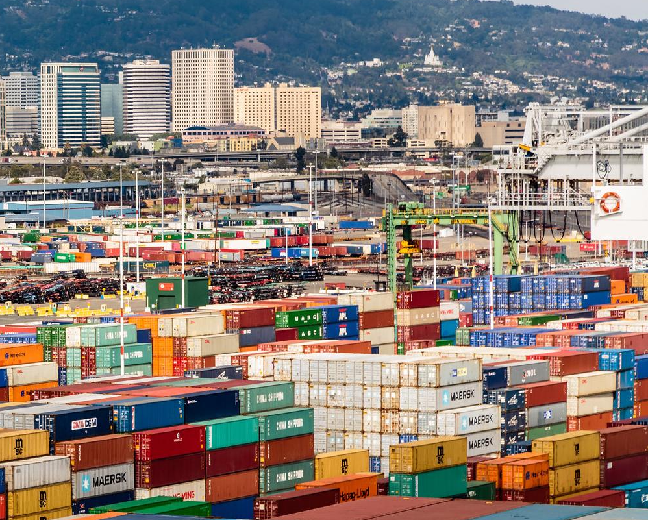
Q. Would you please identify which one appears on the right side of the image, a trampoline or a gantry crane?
gantry crane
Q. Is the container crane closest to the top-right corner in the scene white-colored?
Yes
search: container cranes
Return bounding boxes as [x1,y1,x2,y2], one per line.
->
[378,193,523,335]
[481,101,648,242]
